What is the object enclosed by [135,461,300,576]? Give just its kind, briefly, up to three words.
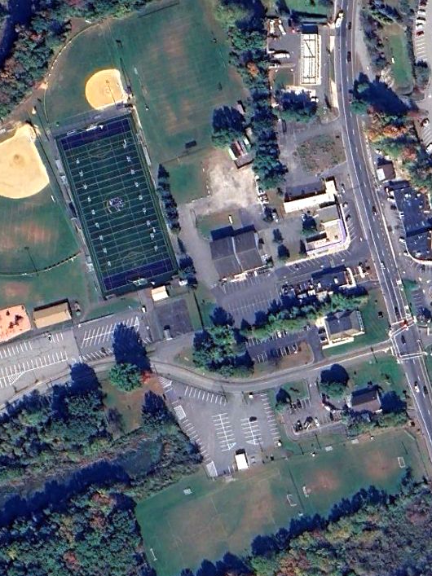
soccer field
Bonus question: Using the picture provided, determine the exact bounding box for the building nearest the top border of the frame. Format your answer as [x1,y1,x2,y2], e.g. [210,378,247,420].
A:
[300,33,321,86]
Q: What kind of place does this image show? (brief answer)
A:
sports ground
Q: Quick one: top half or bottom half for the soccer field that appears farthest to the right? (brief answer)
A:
bottom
